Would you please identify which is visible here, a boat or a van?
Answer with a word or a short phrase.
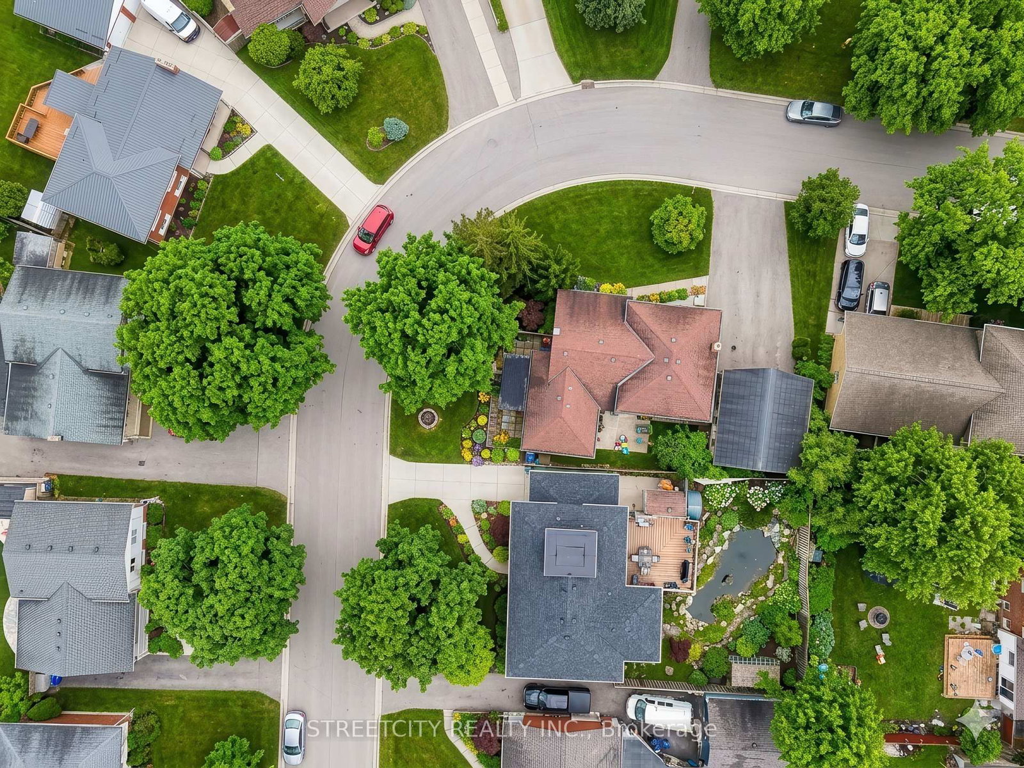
van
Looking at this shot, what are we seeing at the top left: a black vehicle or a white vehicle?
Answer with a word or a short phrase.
white vehicle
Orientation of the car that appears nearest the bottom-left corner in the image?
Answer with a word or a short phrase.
up and down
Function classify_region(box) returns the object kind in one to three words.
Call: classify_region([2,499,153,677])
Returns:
house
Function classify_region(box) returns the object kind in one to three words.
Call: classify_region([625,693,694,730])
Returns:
van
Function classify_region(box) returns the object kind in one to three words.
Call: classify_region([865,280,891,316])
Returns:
car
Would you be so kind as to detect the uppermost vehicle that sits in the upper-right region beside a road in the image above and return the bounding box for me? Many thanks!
[785,98,841,127]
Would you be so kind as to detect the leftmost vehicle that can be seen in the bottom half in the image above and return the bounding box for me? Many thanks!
[280,708,308,765]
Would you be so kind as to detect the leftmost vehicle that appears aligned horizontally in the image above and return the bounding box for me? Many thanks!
[523,683,591,713]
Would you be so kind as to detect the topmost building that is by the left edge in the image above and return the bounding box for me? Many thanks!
[12,0,138,53]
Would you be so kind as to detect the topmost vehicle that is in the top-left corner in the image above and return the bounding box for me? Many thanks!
[133,0,203,47]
